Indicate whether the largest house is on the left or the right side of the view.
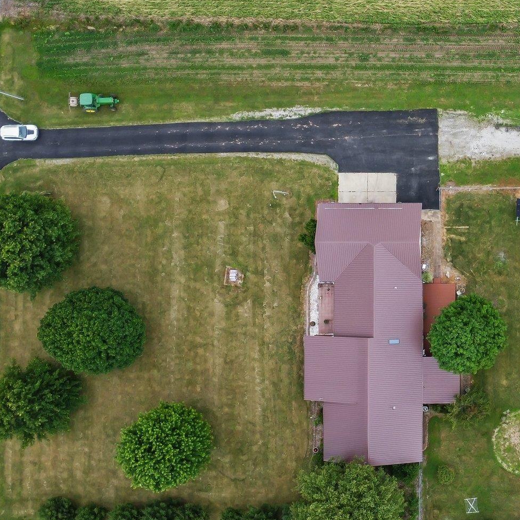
right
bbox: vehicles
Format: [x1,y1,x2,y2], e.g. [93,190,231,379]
[0,124,40,141]
[80,91,121,113]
